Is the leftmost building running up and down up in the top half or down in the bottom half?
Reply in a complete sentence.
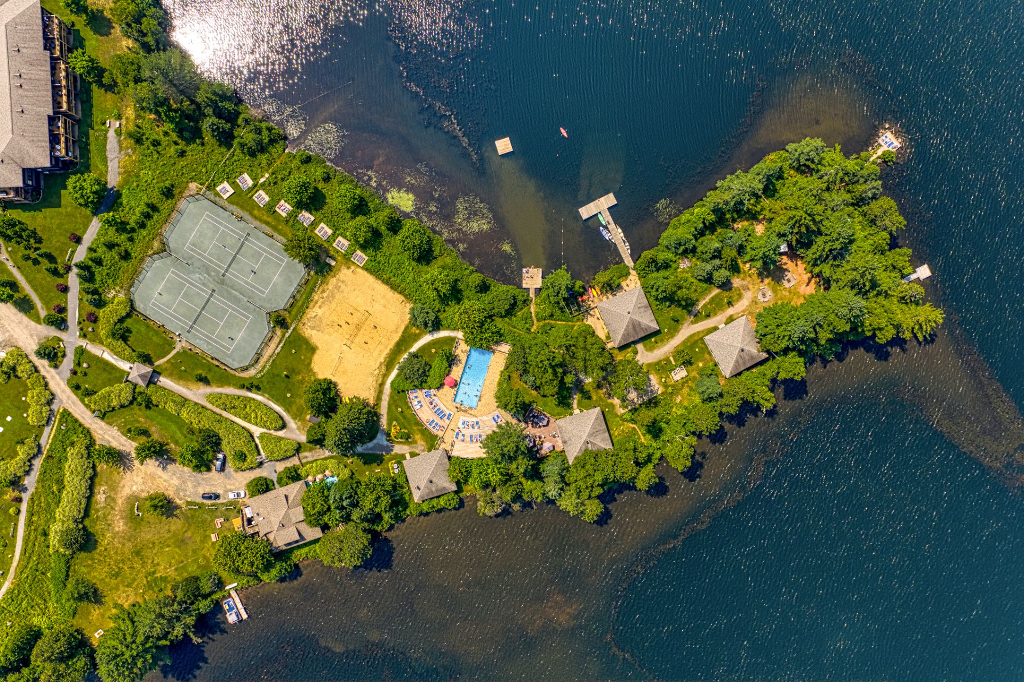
Seen from above, the leftmost building running up and down lies in the top half of the view.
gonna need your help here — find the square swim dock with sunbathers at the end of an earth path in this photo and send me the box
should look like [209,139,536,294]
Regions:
[522,268,542,303]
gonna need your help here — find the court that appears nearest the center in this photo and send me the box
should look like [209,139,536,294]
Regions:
[297,265,415,406]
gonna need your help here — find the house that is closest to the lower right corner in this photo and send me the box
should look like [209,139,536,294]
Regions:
[704,316,765,378]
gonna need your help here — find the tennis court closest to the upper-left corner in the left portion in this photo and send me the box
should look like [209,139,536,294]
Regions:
[135,199,304,367]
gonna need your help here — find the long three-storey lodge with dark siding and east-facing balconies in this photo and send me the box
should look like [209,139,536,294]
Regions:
[0,0,83,203]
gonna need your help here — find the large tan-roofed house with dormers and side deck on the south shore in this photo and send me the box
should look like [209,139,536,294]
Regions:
[241,480,321,554]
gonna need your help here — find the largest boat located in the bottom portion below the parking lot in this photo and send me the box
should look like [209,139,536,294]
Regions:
[221,599,240,626]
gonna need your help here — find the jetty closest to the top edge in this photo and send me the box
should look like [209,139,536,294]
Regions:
[578,193,634,268]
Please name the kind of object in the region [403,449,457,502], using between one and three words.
house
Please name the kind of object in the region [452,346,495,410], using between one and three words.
swimming pool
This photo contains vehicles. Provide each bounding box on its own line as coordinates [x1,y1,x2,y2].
[228,490,247,499]
[216,453,225,472]
[201,492,221,500]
